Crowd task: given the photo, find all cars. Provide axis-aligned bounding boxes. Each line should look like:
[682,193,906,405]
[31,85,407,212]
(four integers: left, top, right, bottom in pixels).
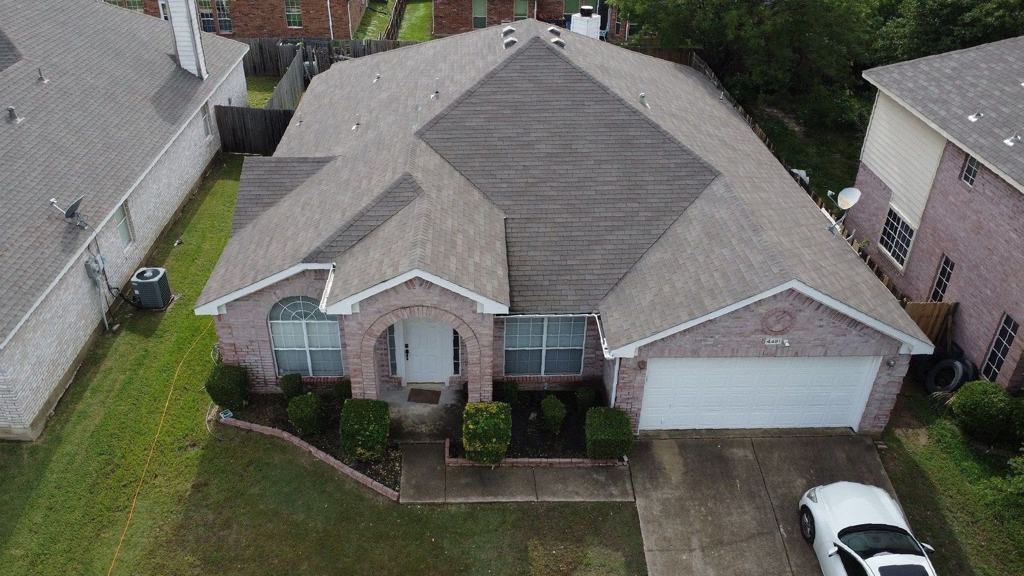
[794,483,939,576]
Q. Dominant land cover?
buildings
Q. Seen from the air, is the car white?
Yes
